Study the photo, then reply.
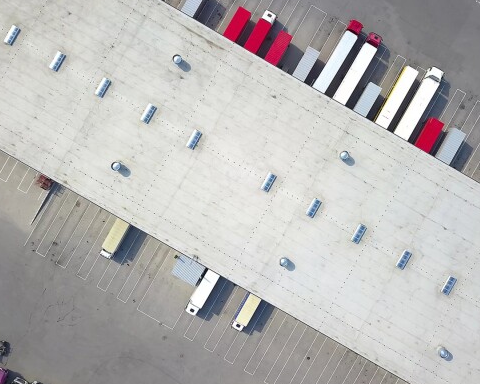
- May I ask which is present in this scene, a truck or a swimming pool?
truck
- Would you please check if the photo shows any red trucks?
Yes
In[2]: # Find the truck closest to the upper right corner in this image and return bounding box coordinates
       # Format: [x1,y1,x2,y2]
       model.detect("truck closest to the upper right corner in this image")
[415,66,444,93]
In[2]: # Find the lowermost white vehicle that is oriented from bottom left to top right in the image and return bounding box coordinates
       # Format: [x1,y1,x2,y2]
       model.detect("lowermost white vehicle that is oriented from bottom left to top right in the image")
[231,291,261,330]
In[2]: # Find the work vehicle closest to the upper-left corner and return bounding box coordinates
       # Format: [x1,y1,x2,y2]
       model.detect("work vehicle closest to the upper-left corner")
[37,175,51,189]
